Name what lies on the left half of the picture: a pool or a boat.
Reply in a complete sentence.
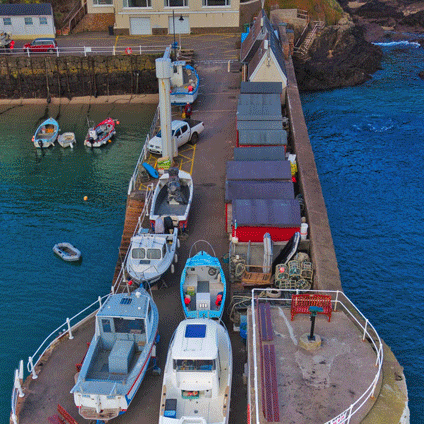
The one visible on the left half of the picture is a boat.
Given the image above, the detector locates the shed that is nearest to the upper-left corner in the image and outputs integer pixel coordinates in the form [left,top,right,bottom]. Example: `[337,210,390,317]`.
[0,1,63,36]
